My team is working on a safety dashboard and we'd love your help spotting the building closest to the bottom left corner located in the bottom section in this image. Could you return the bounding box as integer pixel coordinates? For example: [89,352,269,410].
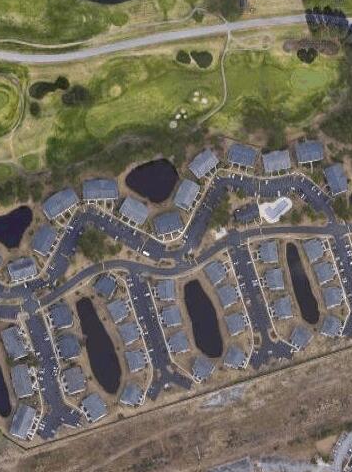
[8,404,39,442]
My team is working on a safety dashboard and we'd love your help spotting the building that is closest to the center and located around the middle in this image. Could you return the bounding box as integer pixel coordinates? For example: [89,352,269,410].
[154,211,184,241]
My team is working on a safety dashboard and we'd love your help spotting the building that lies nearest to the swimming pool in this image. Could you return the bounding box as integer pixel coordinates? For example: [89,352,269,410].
[235,204,260,223]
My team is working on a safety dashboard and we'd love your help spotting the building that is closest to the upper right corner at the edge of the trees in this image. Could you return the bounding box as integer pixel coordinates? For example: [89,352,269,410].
[295,141,325,175]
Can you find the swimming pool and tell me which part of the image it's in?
right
